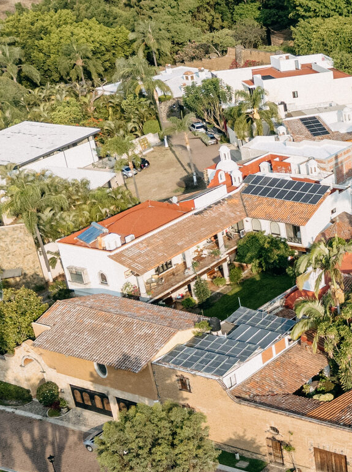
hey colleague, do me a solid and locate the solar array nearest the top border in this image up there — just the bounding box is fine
[299,117,329,136]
